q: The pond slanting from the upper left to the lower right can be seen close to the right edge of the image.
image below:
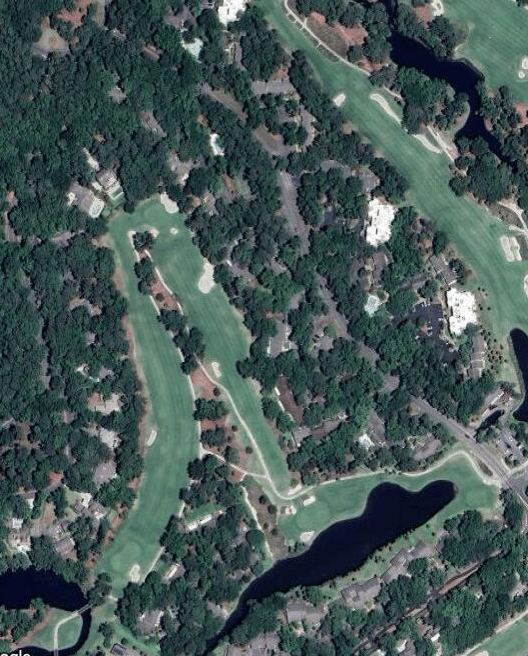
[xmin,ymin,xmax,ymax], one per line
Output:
[356,0,519,170]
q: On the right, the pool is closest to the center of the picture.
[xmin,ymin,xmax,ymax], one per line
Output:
[365,295,381,316]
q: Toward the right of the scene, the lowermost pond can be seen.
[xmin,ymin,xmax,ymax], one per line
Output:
[201,480,457,656]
